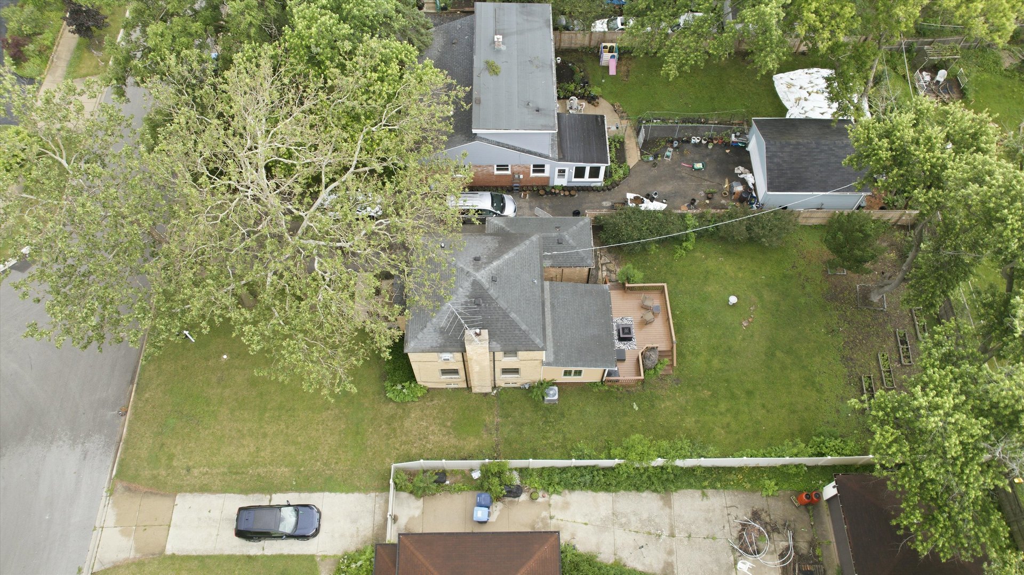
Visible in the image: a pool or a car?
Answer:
car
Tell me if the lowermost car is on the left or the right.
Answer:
left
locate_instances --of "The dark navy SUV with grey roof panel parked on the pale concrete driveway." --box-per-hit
[231,501,323,546]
